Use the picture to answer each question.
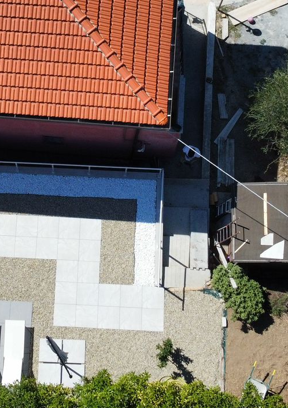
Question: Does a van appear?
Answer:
No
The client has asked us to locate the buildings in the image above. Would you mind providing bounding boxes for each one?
[231,183,288,265]
[0,0,184,169]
